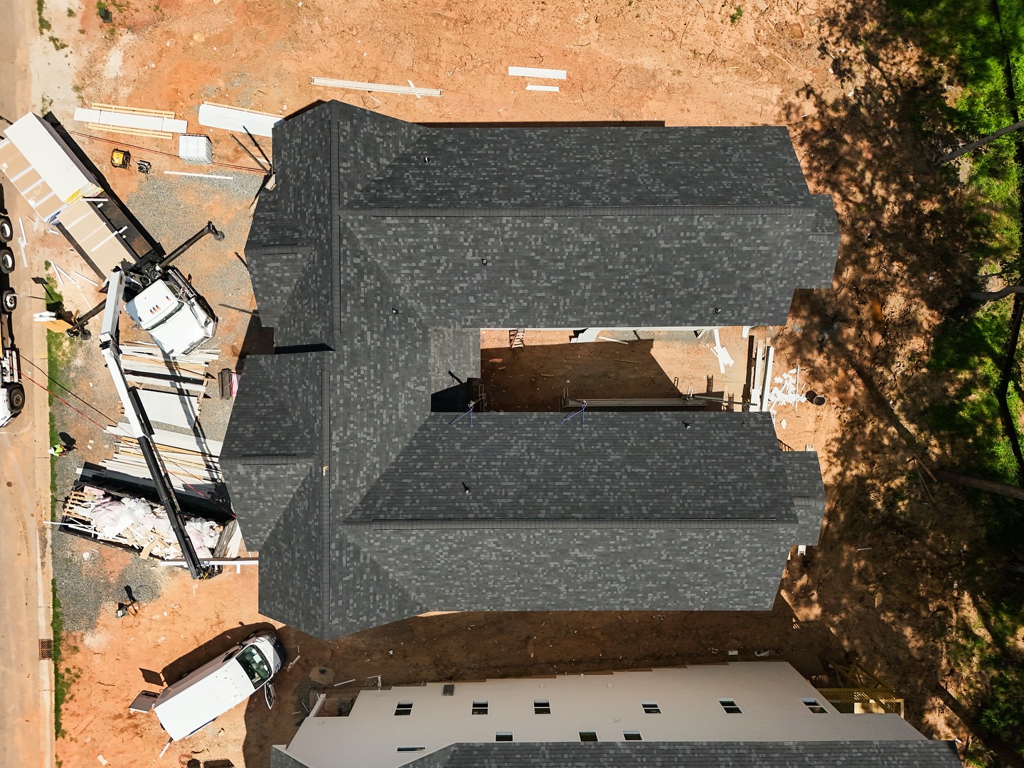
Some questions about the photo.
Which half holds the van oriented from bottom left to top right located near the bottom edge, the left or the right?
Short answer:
left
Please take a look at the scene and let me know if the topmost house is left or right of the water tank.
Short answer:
to the right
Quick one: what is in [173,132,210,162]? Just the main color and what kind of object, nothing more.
white water tank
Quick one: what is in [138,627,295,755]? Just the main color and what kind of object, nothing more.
white van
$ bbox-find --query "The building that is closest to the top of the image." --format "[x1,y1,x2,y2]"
[220,99,846,640]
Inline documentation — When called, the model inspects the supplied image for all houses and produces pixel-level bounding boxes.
[220,99,846,640]
[270,659,966,768]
